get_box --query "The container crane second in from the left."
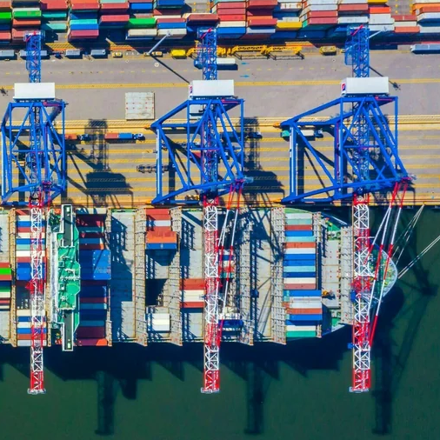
[136,23,255,396]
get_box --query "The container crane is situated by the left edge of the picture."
[0,26,71,396]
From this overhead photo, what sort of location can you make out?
port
